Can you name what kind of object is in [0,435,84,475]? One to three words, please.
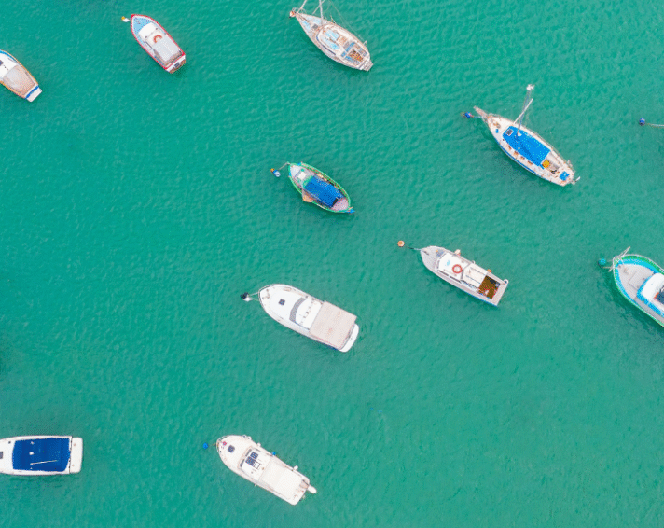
boat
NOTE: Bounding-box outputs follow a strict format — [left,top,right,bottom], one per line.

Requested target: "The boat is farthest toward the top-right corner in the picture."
[474,85,582,190]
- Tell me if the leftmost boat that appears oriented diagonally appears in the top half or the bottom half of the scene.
top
